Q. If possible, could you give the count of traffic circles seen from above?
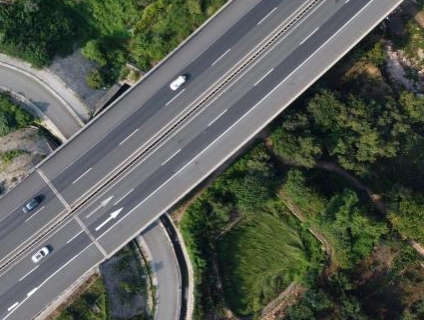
none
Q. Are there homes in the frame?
No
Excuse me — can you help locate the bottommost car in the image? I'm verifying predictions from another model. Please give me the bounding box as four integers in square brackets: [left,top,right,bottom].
[30,245,49,263]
